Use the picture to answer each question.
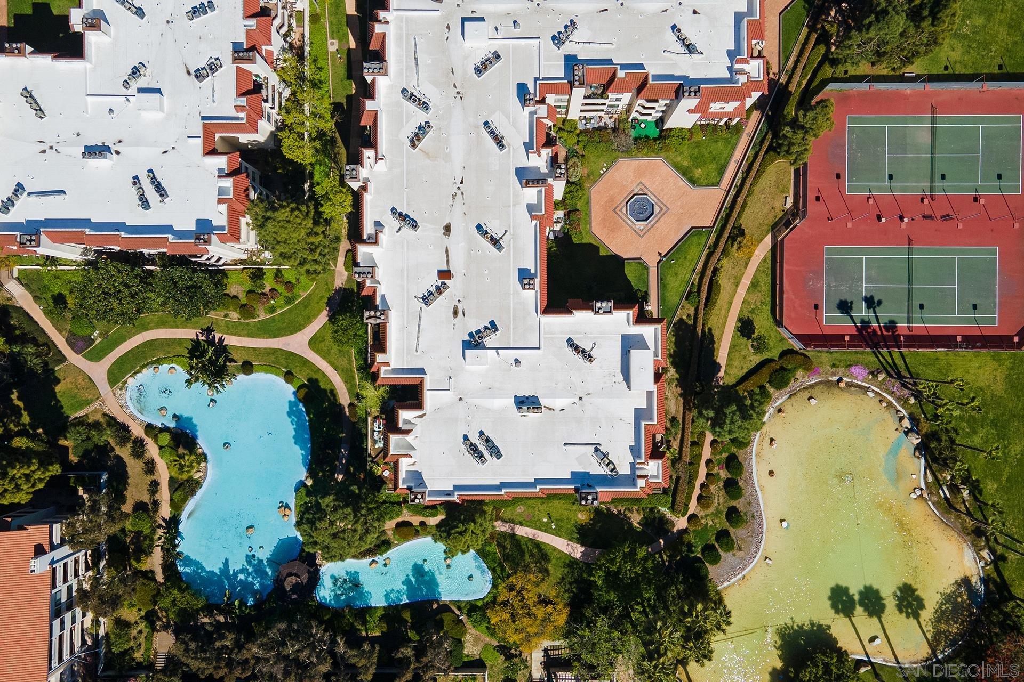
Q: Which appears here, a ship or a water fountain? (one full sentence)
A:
The image shows a water fountain.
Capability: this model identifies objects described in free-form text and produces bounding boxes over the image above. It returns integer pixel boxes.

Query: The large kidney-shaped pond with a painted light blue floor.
[126,364,311,606]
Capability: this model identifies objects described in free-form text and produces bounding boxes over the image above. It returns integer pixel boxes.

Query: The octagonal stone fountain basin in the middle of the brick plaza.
[628,194,655,222]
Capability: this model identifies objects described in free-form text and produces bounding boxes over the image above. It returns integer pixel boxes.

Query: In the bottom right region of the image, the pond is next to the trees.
[673,379,985,682]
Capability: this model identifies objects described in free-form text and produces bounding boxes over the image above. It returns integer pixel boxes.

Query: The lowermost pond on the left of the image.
[315,537,492,609]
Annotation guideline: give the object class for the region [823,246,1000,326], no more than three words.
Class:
tennis court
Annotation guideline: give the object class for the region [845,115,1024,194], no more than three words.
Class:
tennis court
